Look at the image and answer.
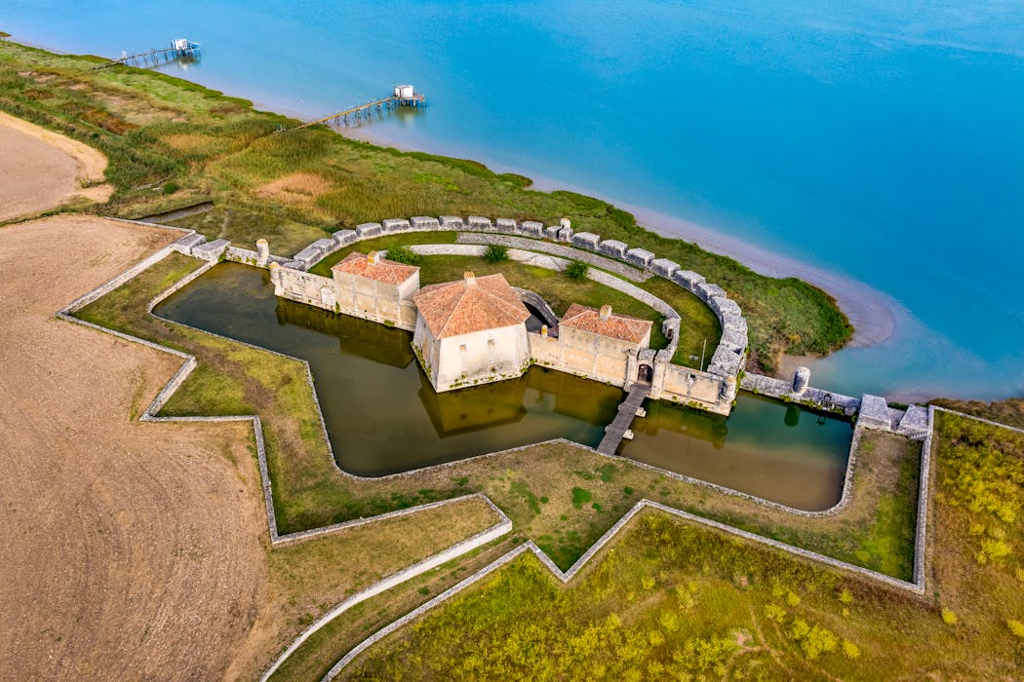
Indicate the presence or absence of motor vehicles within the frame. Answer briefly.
No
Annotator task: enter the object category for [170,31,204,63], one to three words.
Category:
shed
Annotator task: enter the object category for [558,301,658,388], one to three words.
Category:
house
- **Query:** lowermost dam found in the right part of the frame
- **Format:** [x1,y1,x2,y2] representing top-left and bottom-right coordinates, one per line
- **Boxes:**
[745,373,862,418]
